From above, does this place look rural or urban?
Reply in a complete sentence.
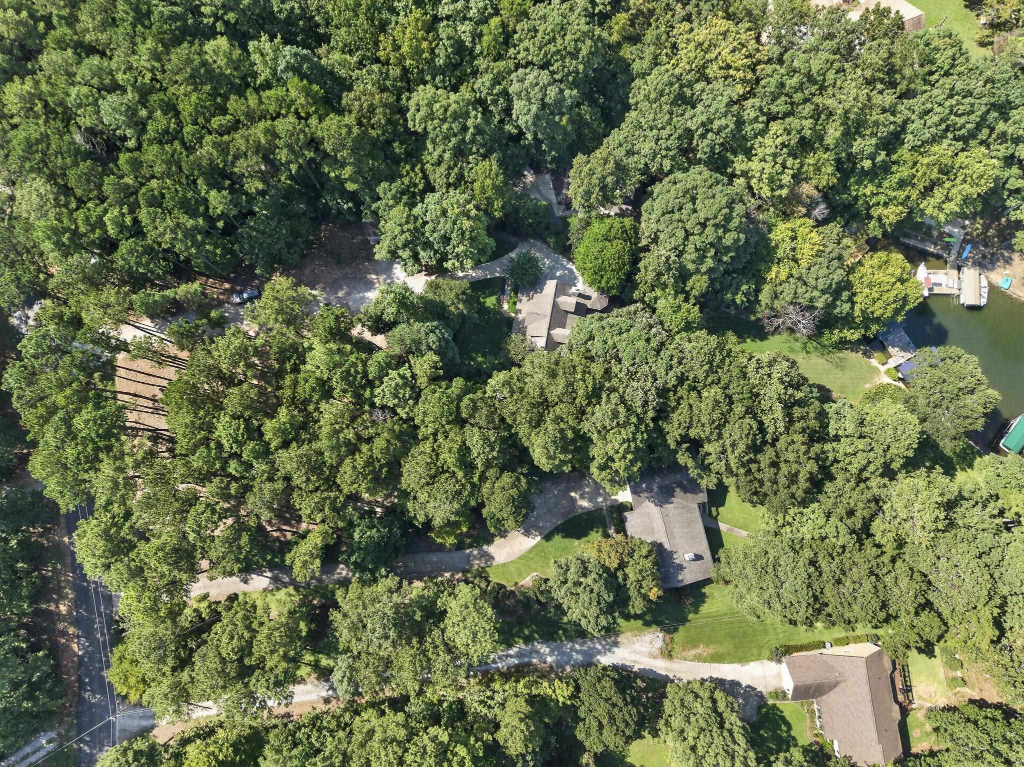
It looks rural.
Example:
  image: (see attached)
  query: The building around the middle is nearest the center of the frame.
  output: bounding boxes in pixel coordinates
[509,280,609,355]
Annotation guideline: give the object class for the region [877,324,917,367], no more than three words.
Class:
pier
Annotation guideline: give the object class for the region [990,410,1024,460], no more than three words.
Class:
building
